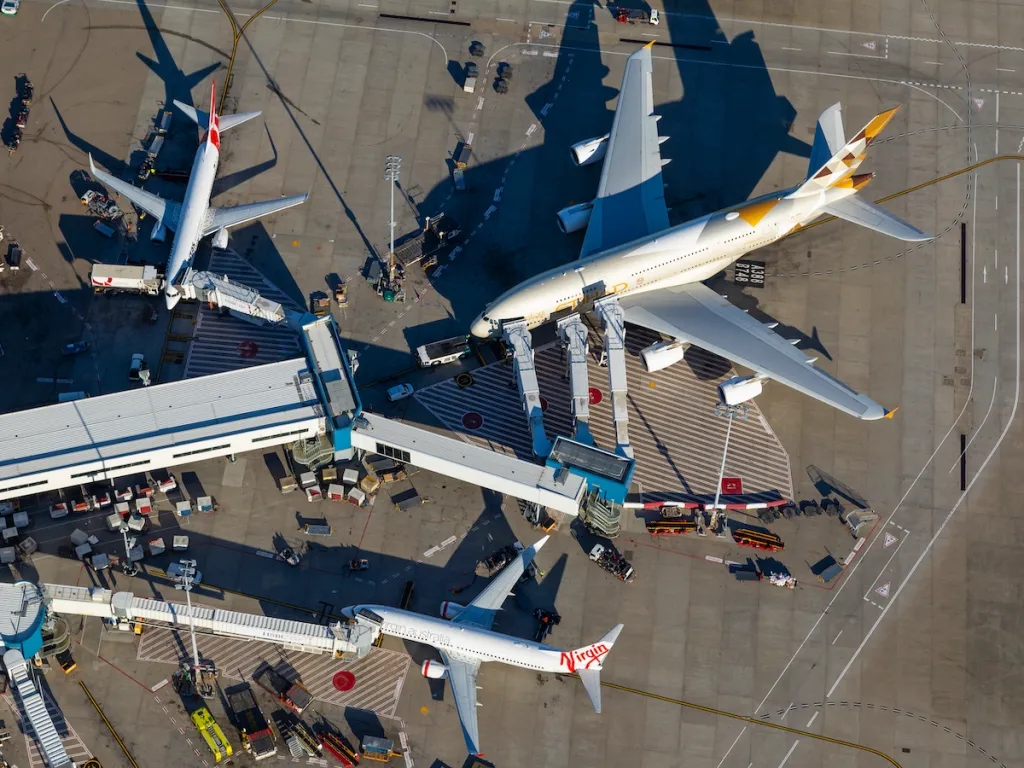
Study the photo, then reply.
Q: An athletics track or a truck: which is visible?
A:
truck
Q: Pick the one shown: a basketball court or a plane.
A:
plane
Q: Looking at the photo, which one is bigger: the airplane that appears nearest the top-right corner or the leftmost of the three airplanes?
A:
the airplane that appears nearest the top-right corner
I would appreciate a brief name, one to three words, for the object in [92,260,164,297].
truck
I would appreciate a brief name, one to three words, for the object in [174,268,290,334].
jet bridge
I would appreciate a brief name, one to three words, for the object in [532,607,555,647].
work vehicle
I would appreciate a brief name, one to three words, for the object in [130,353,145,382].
vehicle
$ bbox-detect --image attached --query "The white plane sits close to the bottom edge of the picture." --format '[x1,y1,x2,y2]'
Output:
[342,537,625,756]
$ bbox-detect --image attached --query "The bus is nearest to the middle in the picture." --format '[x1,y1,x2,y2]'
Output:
[413,333,473,370]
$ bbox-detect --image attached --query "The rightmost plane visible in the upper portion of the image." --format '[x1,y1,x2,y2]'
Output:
[470,42,934,420]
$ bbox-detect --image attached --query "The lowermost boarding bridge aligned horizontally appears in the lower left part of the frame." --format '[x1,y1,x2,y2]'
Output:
[128,599,383,662]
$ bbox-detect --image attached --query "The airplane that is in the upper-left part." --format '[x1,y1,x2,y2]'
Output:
[89,83,311,309]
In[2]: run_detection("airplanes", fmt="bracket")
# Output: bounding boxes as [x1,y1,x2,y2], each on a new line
[342,537,625,756]
[89,83,311,309]
[470,42,934,420]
